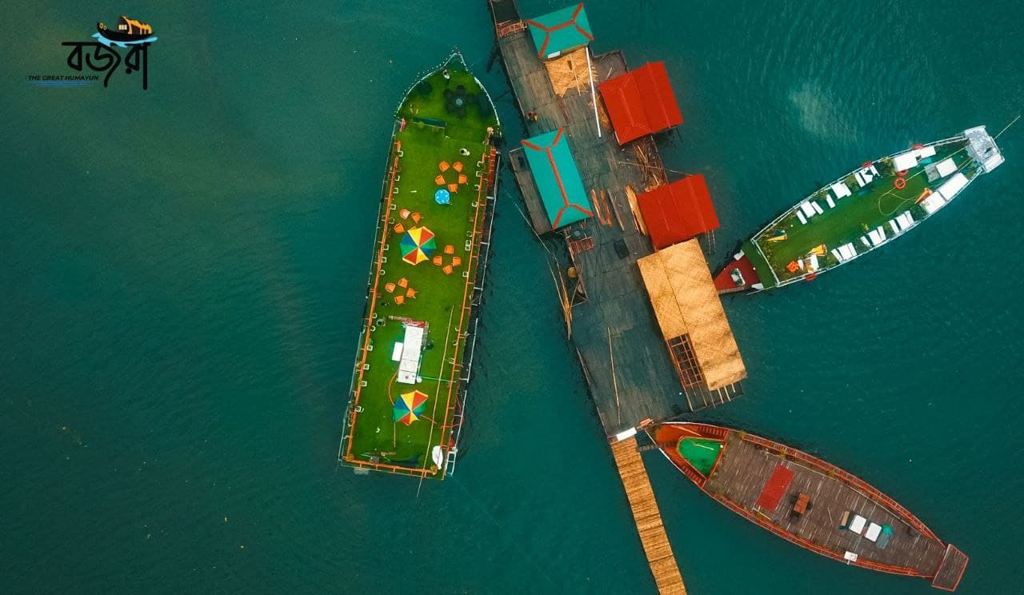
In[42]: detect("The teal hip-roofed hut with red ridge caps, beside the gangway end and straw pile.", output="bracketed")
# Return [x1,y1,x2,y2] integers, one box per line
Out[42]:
[525,2,595,61]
